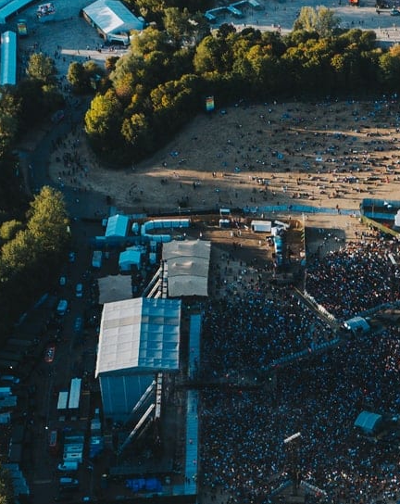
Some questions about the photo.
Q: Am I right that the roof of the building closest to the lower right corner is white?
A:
No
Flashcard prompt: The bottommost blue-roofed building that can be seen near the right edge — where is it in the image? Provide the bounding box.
[354,414,380,437]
